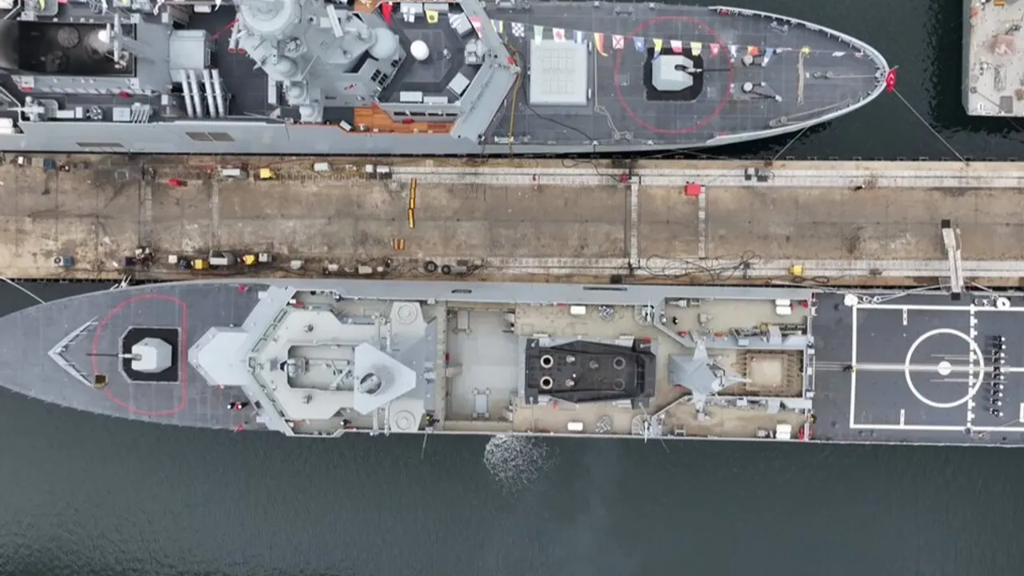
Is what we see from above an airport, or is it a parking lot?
parking lot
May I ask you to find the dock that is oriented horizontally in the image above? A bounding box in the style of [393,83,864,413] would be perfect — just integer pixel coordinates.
[0,151,1024,291]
